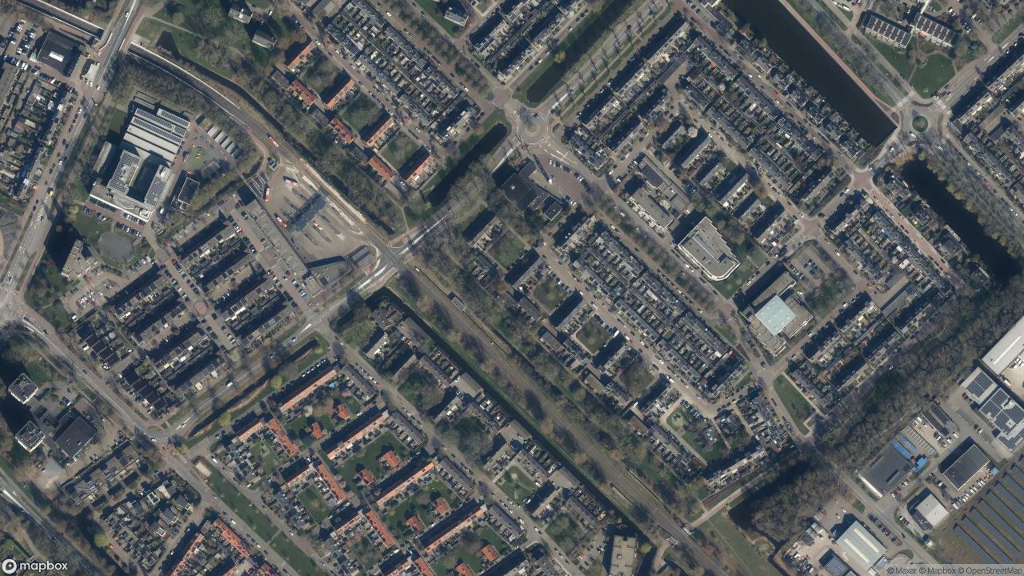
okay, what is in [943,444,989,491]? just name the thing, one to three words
building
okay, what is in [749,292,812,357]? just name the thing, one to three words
building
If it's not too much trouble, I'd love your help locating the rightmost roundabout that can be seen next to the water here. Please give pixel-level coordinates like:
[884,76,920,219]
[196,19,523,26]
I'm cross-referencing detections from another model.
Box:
[901,105,939,143]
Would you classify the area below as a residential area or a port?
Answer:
residential area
